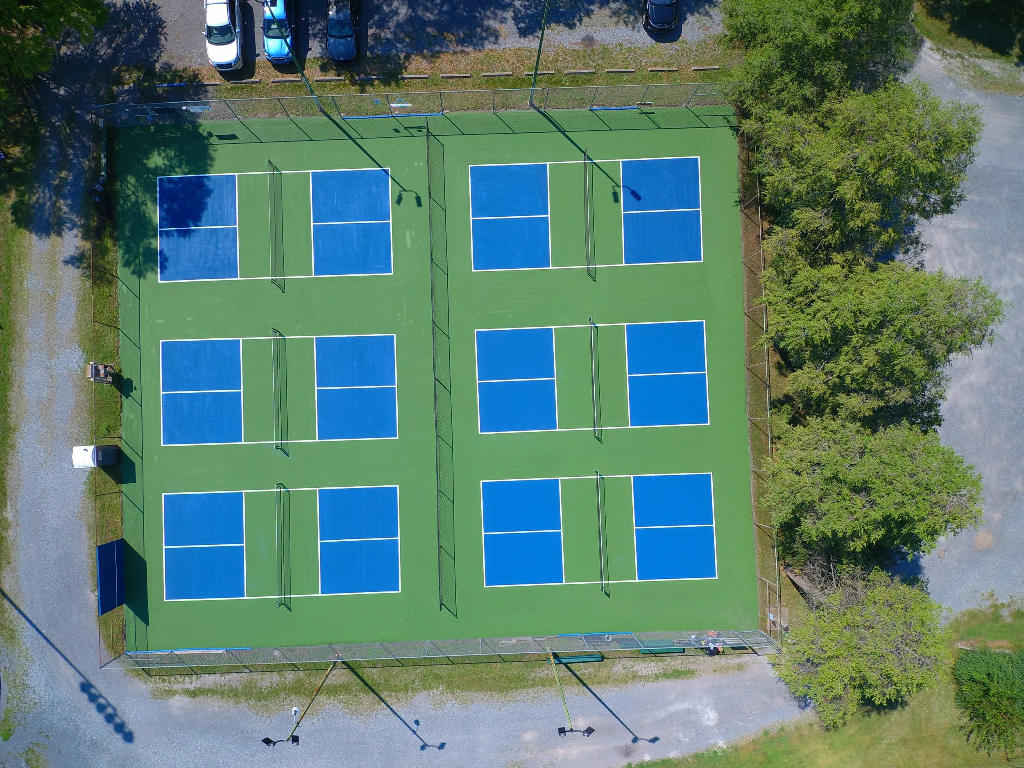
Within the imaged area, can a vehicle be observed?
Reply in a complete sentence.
Yes, a vehicle can be made out from above.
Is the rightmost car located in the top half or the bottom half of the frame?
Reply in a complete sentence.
It is in the top half that the rightmost car appears.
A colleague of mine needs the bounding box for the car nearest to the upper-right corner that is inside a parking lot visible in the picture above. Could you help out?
[638,0,675,37]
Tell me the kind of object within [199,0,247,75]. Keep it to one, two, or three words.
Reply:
car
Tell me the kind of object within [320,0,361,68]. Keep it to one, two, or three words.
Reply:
car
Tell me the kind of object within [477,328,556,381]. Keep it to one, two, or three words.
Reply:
sports court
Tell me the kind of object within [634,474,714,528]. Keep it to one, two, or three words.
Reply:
sports court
